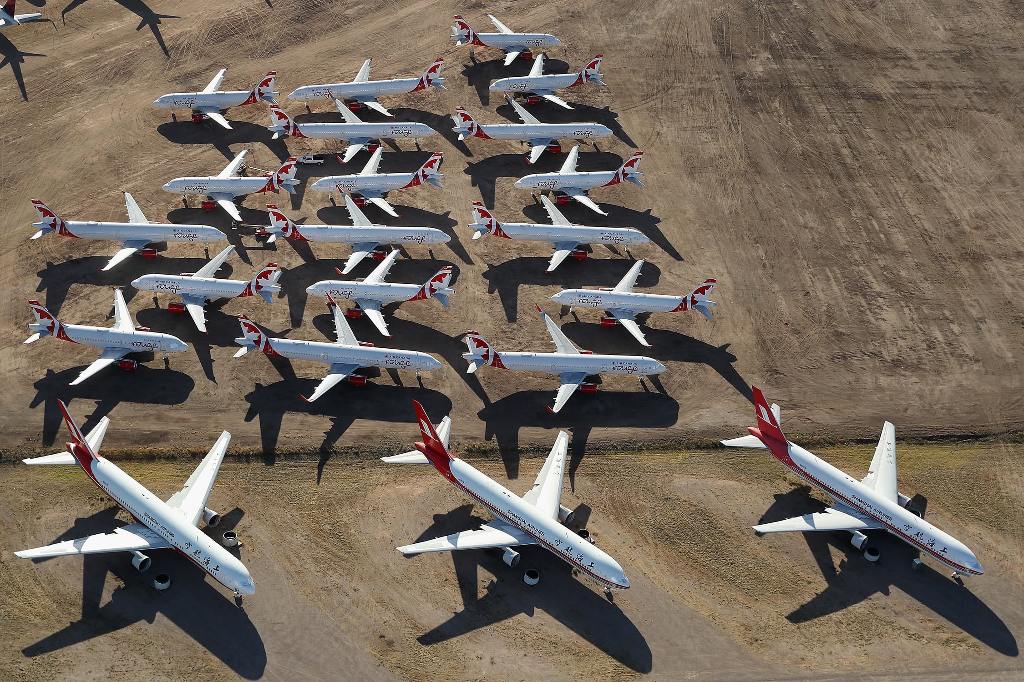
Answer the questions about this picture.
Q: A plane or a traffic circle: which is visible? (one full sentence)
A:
The one in the frame is a plane.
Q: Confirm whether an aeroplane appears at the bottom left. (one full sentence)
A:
Yes, an aeroplane appears at the bottom left.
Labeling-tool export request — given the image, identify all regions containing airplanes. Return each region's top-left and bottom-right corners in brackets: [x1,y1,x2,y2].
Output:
[449,12,561,67]
[311,144,445,218]
[490,51,605,110]
[263,185,451,274]
[15,399,257,599]
[722,386,981,579]
[25,287,188,387]
[383,399,632,595]
[267,90,435,163]
[305,247,456,338]
[515,143,644,216]
[289,57,447,118]
[162,147,301,223]
[552,258,716,348]
[461,303,666,412]
[451,91,613,163]
[233,293,442,402]
[467,192,649,273]
[131,243,283,334]
[31,189,226,273]
[0,0,45,26]
[153,66,281,130]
